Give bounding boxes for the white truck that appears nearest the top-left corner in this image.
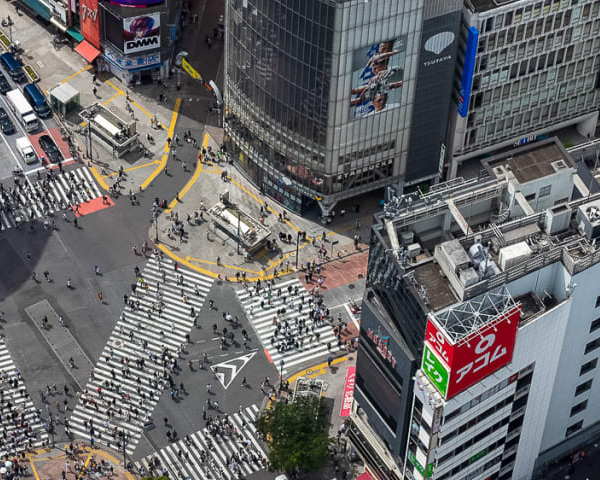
[9,88,40,130]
